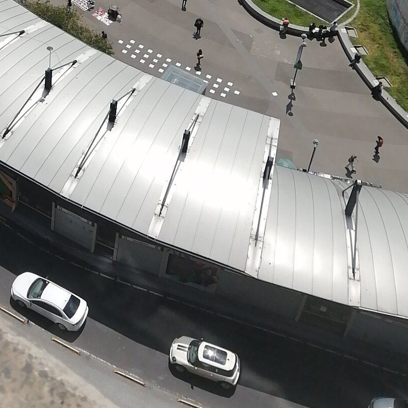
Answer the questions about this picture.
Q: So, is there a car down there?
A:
Yes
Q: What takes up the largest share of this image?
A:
buildings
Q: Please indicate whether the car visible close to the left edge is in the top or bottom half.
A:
bottom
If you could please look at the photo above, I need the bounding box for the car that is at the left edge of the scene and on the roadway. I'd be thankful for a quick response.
[10,276,91,333]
